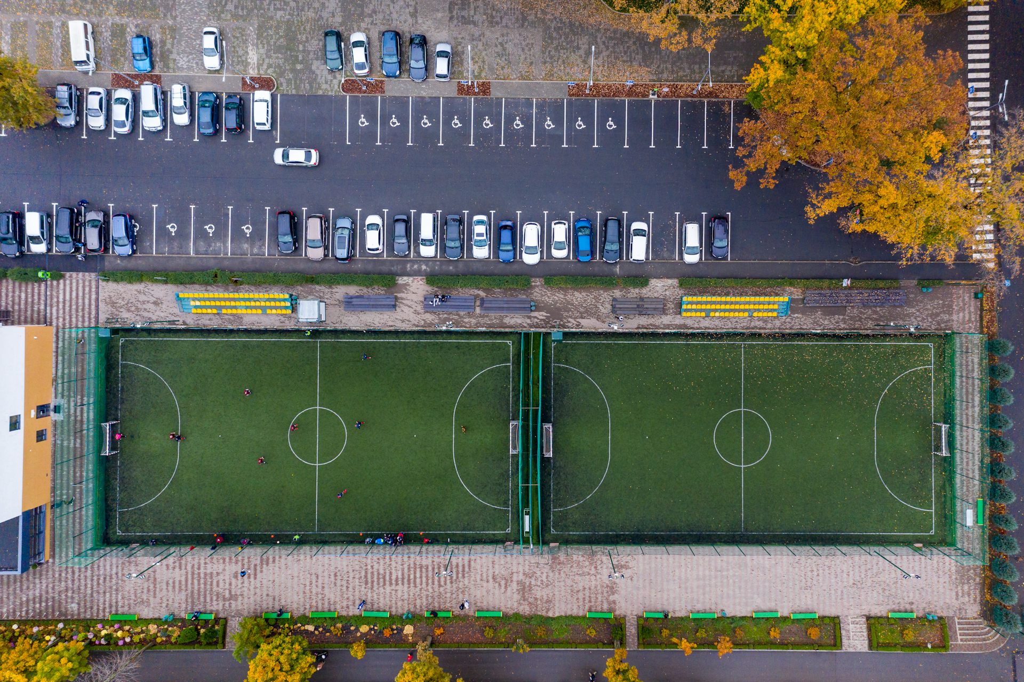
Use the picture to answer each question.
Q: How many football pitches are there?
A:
two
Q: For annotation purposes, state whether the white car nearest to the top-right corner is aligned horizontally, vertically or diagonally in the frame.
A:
vertically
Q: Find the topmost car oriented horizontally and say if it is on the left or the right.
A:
left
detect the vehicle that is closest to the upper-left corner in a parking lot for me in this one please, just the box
[63,18,98,72]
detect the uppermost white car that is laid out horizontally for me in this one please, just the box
[275,146,320,167]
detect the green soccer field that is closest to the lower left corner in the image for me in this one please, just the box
[101,330,521,544]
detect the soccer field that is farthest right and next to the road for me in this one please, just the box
[540,330,947,544]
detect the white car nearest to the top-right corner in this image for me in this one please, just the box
[681,222,703,264]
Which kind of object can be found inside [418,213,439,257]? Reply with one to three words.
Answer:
vehicle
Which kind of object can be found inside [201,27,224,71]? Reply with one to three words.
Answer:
car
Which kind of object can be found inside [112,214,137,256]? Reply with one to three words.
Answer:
car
